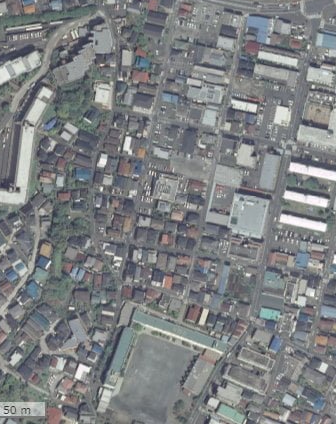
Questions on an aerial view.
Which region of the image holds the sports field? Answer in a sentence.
Look in the bottom portion of the view to spot the sports field.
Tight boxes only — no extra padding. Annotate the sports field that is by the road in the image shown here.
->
[115,332,199,424]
